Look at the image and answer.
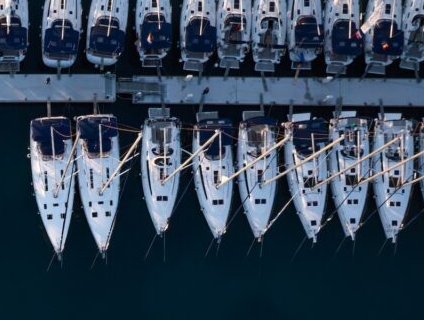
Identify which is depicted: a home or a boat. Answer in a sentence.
I can see a boat in this picture.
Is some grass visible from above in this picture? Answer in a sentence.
No, no grass is visible.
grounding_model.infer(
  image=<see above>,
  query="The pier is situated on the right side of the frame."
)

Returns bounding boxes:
[132,76,424,108]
